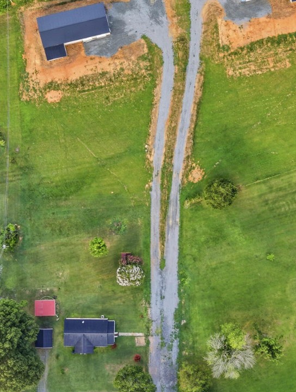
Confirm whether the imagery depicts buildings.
Yes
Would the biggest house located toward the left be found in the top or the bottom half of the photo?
top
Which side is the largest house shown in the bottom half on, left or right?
left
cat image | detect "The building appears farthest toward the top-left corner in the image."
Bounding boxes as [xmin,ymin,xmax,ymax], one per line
[37,3,110,62]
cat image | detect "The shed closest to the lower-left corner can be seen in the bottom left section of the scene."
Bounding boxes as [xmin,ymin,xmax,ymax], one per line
[35,327,53,350]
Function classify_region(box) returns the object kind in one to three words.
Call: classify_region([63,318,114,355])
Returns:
house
